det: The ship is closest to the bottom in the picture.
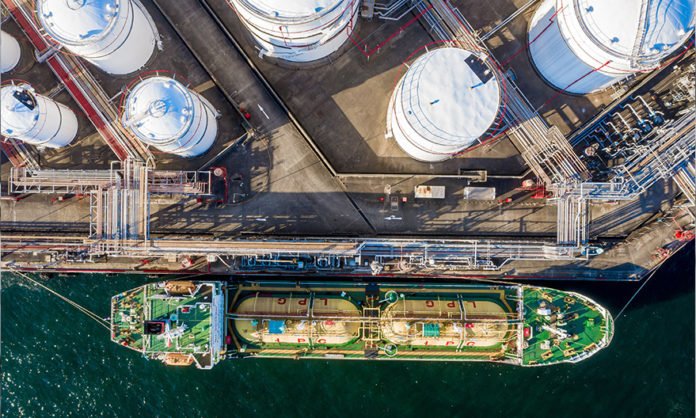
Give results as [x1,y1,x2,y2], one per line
[109,279,616,370]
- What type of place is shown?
industrial area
